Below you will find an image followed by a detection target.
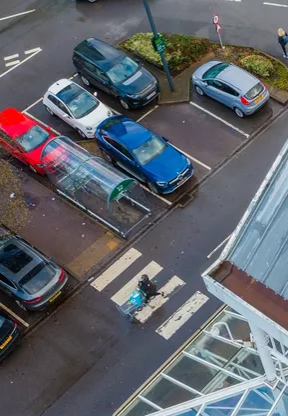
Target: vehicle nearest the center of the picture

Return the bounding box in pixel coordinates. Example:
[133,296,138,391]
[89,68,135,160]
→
[87,114,192,193]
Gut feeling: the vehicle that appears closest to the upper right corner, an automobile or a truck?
automobile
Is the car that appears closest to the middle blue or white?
blue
